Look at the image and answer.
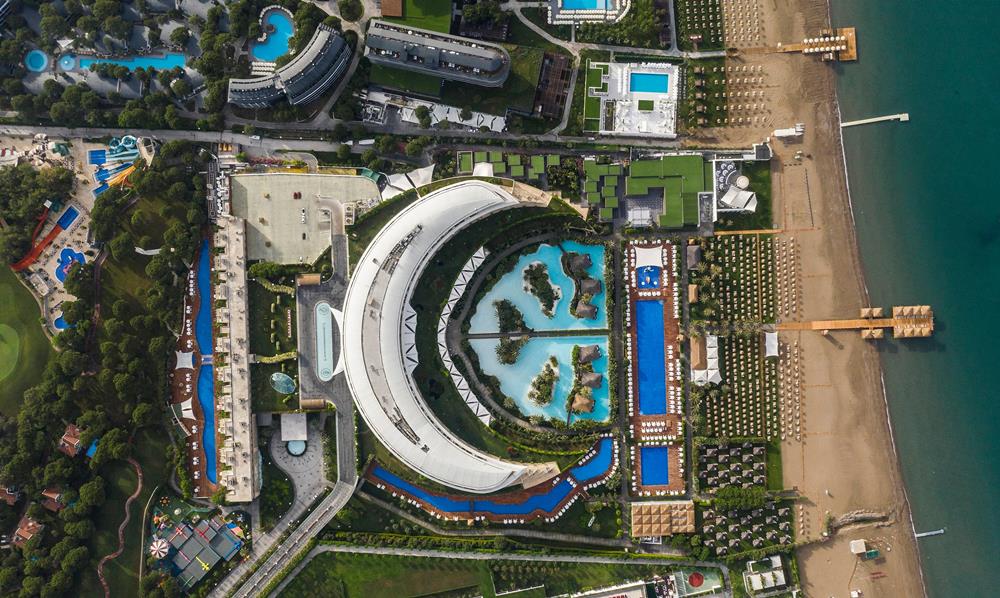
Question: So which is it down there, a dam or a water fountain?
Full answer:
Looking from above, you can make out a water fountain.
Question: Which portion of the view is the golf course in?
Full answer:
Look in the left portion of the view to spot the golf course.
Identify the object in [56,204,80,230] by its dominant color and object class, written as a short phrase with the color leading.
blue swimming pool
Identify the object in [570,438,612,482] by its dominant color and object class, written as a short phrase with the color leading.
blue swimming pool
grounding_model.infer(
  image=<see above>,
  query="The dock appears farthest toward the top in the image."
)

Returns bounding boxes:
[728,26,856,61]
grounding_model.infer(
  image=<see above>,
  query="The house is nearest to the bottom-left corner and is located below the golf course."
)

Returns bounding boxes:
[12,516,46,552]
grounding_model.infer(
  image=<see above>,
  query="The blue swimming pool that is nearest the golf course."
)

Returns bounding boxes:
[54,316,74,330]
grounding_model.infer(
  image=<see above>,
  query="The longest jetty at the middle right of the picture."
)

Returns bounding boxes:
[776,306,934,339]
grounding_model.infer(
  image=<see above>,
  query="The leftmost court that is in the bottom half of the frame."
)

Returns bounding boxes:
[675,571,723,598]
